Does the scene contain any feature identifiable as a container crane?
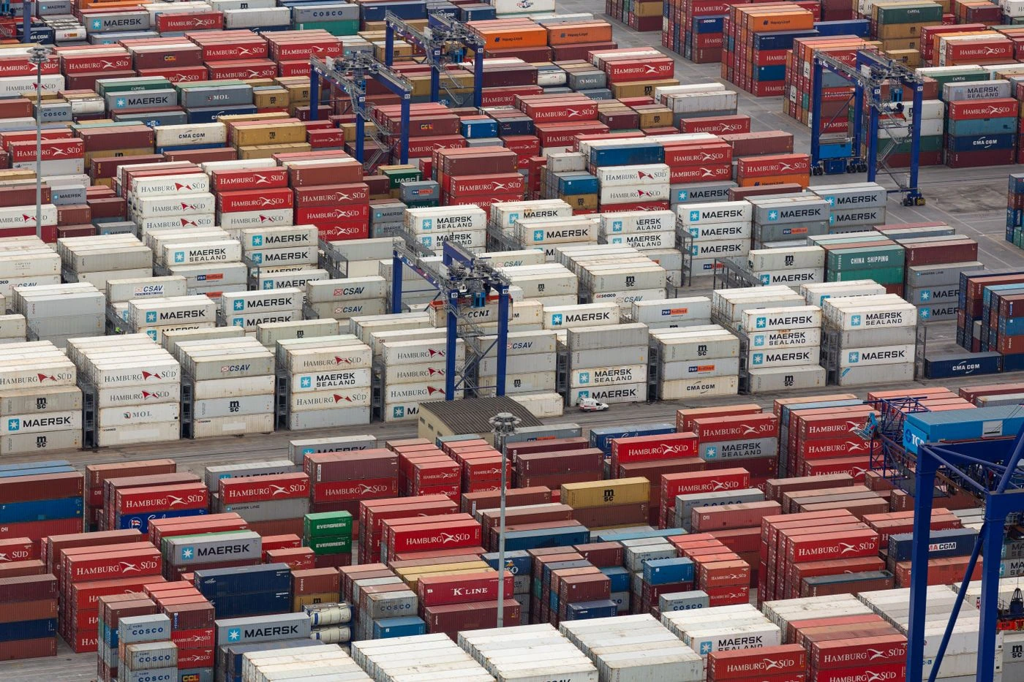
Yes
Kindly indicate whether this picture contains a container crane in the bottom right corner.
Yes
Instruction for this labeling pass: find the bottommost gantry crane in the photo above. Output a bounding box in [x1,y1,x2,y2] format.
[825,340,1024,682]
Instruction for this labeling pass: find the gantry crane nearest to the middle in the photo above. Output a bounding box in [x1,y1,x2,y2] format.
[385,237,514,401]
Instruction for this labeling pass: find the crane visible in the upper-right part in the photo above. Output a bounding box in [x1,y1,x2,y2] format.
[808,47,928,203]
